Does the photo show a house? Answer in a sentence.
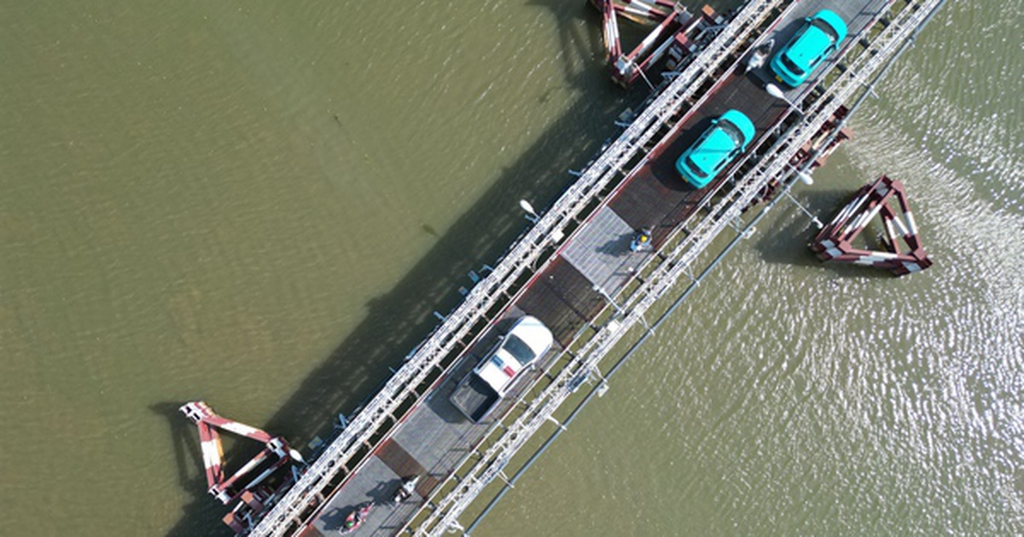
No, the frame has no house in it.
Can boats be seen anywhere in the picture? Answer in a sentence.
No, this view has no boat in it.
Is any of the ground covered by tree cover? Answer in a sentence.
No, there's no tree cover in this view.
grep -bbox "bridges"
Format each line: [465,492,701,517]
[247,0,935,537]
